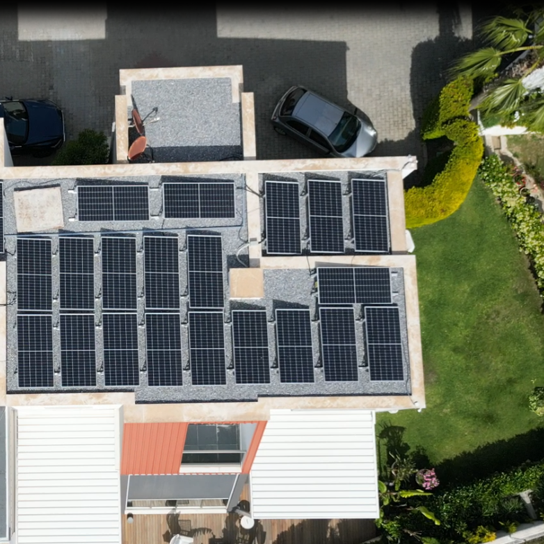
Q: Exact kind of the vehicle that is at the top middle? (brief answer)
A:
car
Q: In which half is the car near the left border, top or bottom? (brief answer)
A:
top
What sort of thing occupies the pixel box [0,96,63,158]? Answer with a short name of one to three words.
car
